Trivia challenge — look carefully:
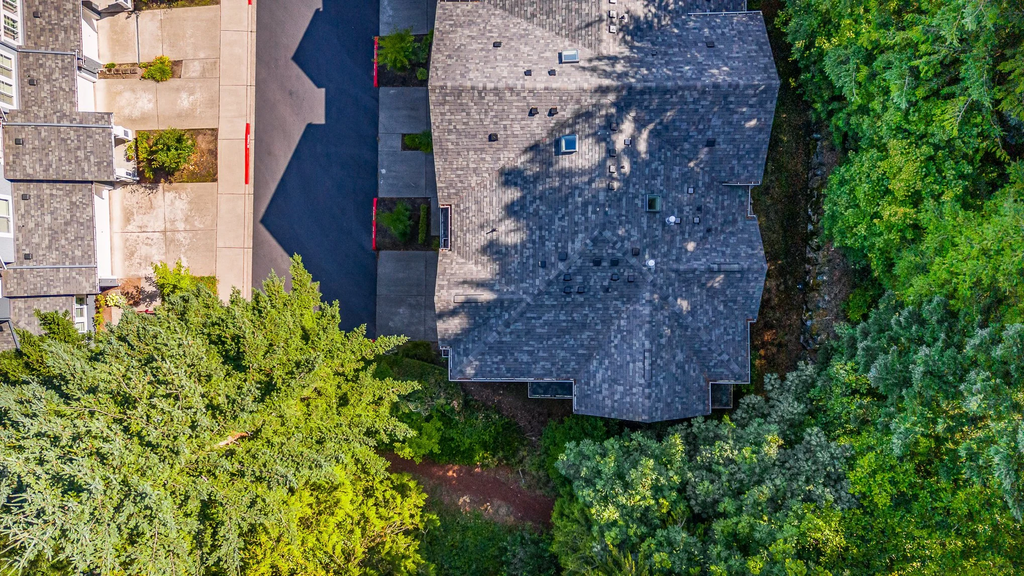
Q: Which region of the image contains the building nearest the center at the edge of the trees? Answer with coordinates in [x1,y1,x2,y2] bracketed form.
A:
[427,0,779,422]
